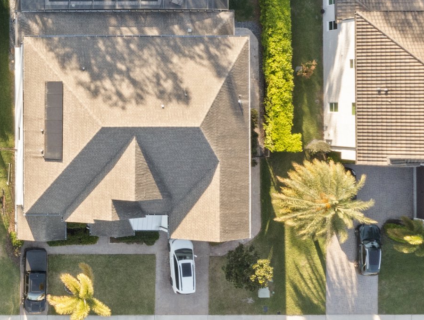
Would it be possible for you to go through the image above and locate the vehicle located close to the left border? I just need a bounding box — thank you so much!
[21,246,50,313]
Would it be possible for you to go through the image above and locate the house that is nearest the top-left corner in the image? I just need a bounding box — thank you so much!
[15,9,252,241]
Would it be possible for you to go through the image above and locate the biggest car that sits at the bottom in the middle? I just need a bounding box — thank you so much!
[166,239,196,295]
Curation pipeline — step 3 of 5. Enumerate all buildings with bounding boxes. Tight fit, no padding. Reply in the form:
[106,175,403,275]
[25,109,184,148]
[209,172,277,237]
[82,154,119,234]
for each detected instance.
[324,0,424,219]
[15,9,252,241]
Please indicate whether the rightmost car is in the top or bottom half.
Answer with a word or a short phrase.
bottom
